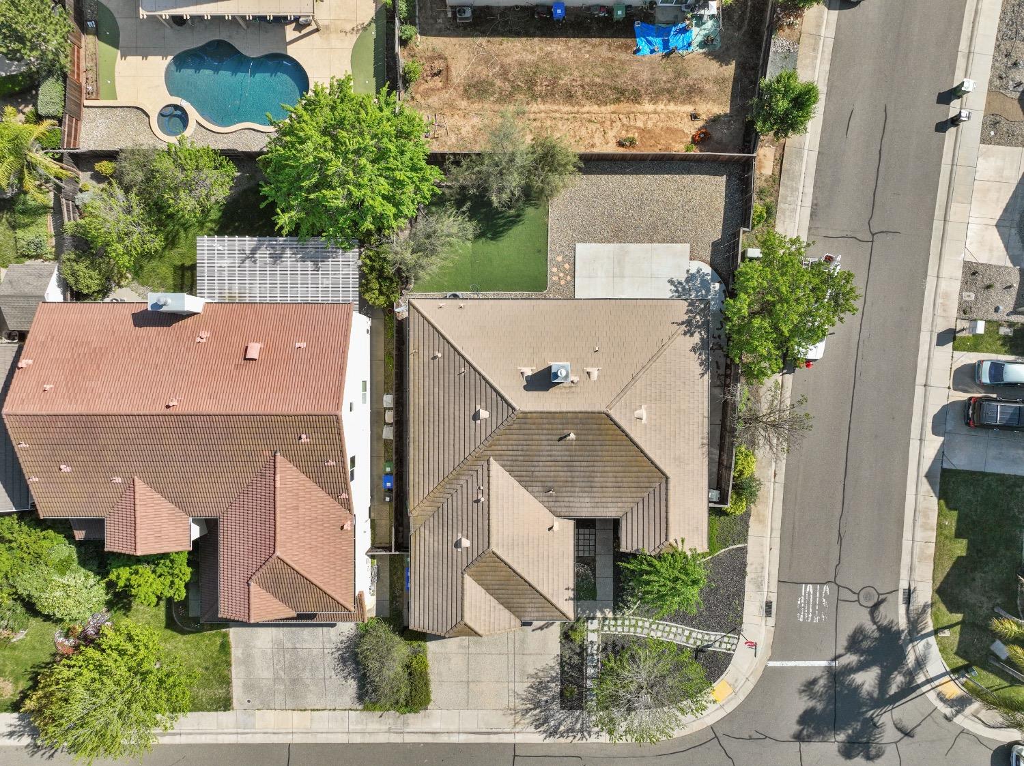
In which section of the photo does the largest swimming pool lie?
top left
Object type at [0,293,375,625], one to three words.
house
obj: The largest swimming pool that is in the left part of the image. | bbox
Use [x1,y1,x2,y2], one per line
[163,36,308,125]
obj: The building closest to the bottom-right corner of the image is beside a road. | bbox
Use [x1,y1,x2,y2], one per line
[406,297,711,639]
